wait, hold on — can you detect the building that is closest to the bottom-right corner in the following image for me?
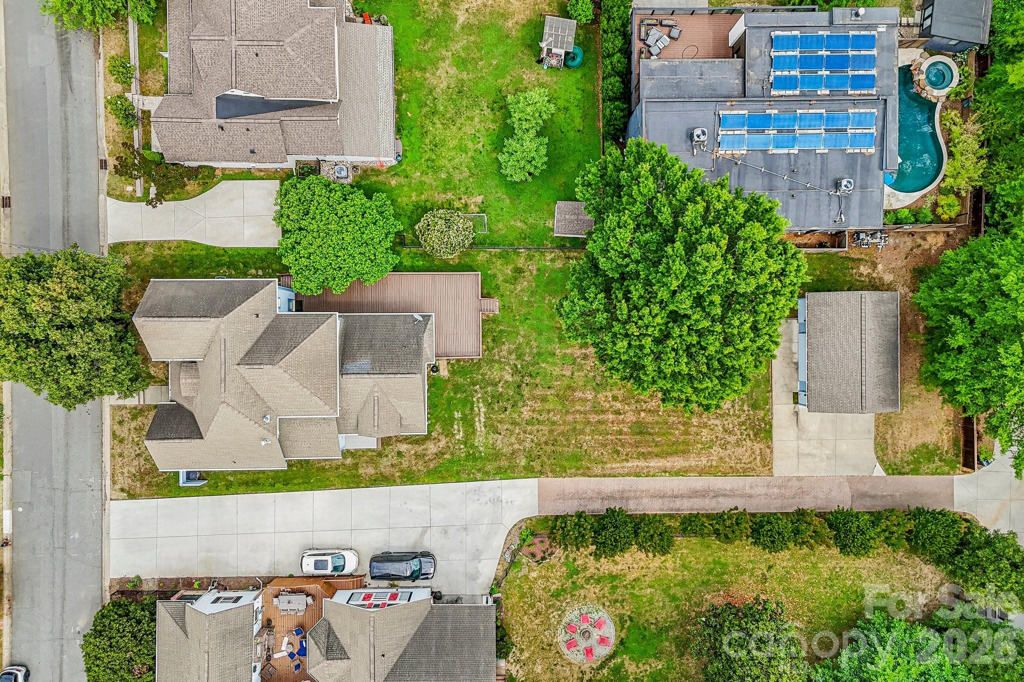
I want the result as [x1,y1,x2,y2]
[797,290,901,415]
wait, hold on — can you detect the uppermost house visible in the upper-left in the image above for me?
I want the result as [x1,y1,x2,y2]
[151,0,399,169]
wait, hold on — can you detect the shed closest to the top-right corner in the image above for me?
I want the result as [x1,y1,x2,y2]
[906,0,990,59]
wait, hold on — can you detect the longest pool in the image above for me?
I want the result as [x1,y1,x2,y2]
[885,65,949,197]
